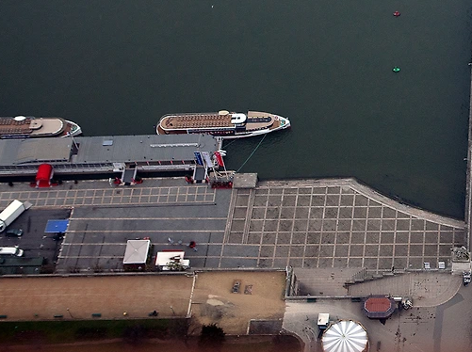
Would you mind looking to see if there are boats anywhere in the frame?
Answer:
Yes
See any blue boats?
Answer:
No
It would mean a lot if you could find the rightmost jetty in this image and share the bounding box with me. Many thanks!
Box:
[232,173,258,190]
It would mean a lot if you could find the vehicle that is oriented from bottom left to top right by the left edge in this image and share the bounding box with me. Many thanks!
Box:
[0,192,26,233]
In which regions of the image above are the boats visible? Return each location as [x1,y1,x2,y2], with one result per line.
[155,107,292,141]
[0,111,84,139]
